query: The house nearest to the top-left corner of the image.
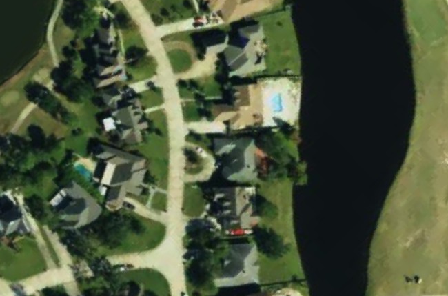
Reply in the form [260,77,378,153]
[94,31,127,93]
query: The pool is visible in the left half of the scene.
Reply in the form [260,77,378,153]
[73,164,93,181]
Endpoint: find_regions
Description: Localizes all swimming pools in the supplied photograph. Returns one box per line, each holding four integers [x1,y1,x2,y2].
[73,164,93,181]
[271,93,283,113]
